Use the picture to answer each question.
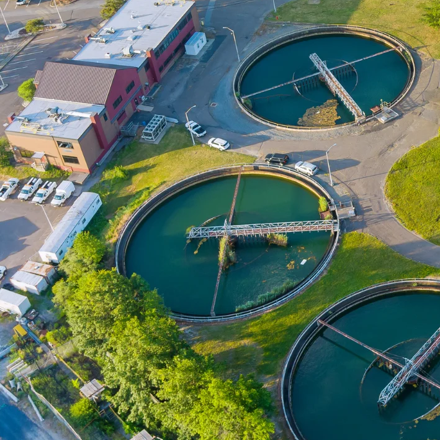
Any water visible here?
Yes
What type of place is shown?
industrial area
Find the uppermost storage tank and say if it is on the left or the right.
right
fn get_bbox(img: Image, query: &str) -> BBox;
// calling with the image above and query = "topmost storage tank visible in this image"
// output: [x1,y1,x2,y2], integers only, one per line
[234,22,414,132]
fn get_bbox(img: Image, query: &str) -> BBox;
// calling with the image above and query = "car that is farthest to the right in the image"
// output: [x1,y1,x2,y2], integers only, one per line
[290,156,321,175]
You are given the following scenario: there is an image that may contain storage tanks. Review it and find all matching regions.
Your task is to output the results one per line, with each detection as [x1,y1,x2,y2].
[115,162,359,321]
[283,276,440,440]
[234,22,414,132]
